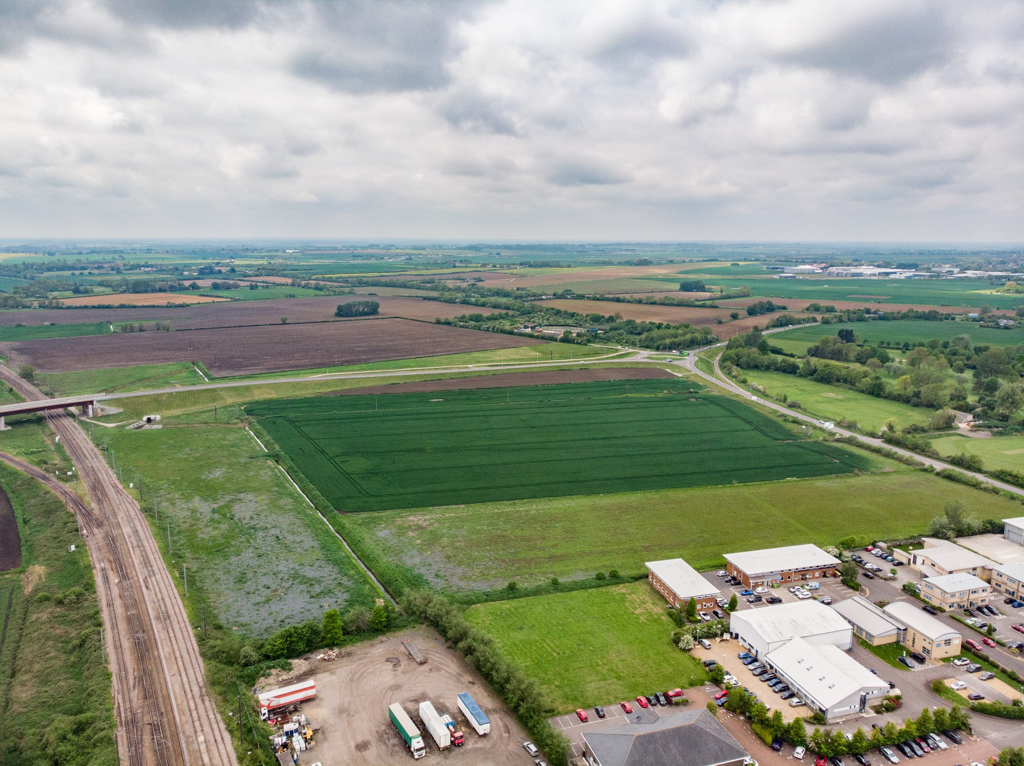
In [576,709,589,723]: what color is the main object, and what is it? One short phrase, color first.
red vehicle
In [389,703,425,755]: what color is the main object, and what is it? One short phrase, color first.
white truck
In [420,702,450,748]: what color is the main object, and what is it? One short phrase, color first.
white trailer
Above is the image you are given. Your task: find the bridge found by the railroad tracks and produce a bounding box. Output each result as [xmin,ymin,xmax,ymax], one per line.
[0,392,129,426]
